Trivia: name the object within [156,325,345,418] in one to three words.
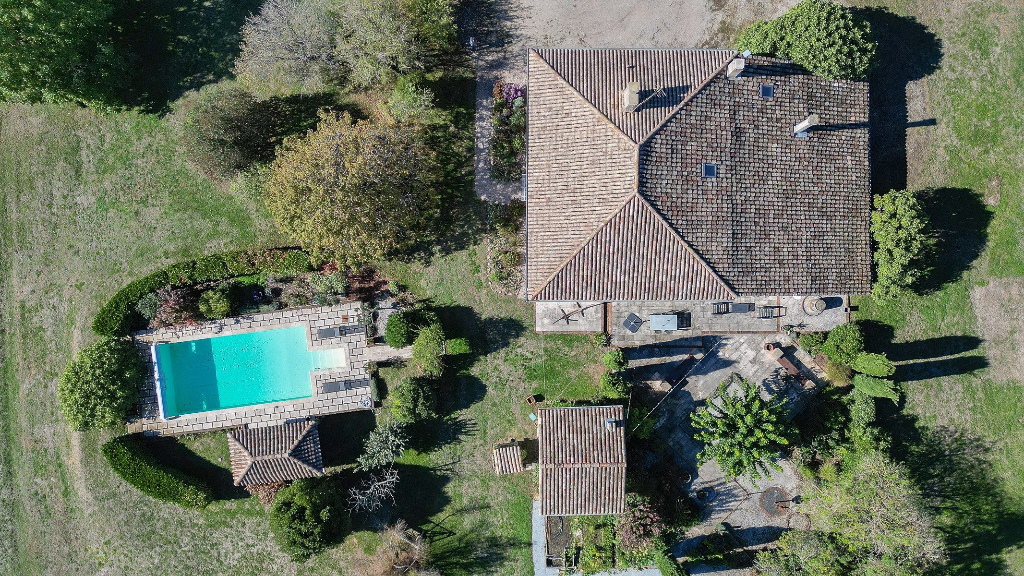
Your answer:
swimming pool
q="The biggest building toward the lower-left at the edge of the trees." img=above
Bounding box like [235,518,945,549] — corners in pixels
[225,419,328,488]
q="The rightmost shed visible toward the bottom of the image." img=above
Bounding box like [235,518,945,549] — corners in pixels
[536,404,630,519]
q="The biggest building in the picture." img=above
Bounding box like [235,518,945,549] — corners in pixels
[521,46,872,303]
